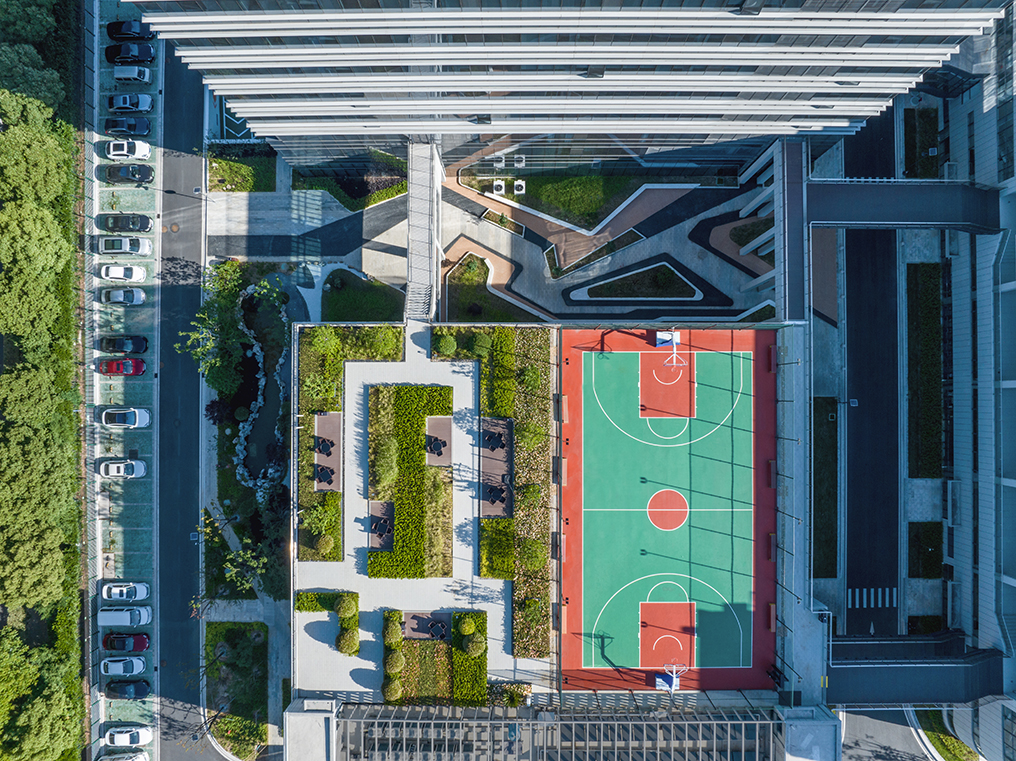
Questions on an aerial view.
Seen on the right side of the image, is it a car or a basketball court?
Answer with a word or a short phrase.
basketball court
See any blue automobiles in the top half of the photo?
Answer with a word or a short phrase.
Yes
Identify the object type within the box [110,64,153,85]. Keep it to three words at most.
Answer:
vehicle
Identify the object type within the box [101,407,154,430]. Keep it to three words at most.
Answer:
car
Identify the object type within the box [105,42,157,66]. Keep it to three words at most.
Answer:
car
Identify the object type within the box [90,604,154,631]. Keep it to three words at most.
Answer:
vehicle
